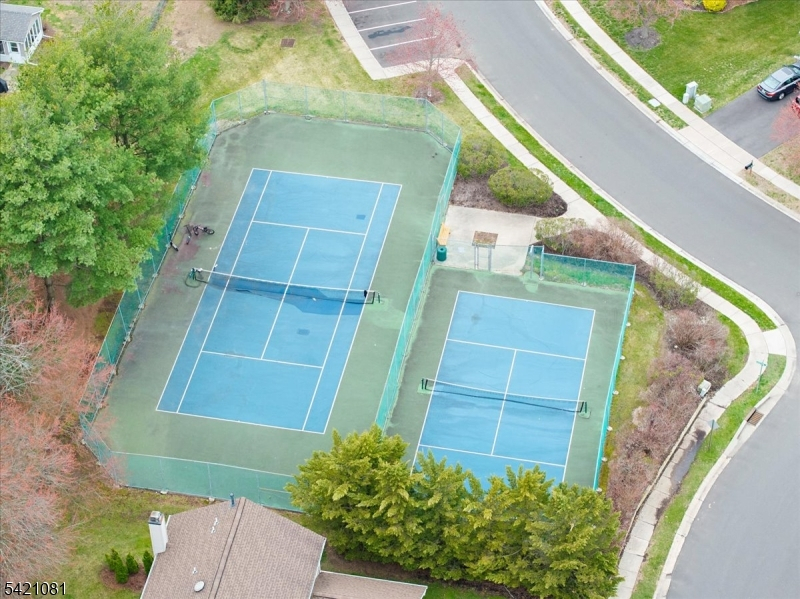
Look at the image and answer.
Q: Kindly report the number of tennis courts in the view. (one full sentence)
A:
The picture shows 2 tennis courts.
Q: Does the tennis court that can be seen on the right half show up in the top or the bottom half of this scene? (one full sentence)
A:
The tennis court that can be seen on the right half is in the bottom half of the image.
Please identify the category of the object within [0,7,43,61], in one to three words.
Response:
house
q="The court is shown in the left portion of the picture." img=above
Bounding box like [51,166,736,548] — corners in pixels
[81,112,455,512]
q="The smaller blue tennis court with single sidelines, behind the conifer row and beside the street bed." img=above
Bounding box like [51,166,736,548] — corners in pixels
[380,265,632,543]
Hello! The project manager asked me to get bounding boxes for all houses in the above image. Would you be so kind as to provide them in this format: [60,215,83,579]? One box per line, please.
[138,496,427,599]
[0,7,43,61]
